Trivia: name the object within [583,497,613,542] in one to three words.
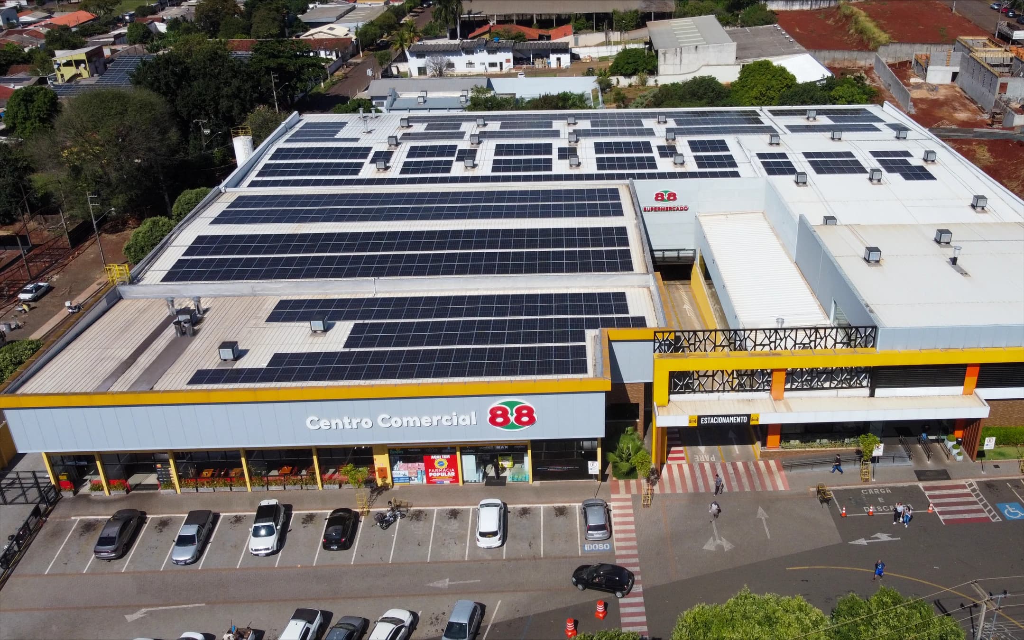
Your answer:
car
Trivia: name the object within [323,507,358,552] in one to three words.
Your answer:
car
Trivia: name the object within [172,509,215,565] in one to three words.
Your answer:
vehicle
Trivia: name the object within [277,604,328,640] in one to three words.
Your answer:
vehicle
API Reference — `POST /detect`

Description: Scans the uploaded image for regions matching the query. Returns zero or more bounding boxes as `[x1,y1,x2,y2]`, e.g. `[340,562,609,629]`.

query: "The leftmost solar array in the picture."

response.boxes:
[54,56,255,99]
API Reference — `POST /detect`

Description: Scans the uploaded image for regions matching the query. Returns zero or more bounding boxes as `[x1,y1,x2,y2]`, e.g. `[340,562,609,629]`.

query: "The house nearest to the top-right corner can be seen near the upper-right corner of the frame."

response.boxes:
[911,36,1024,116]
